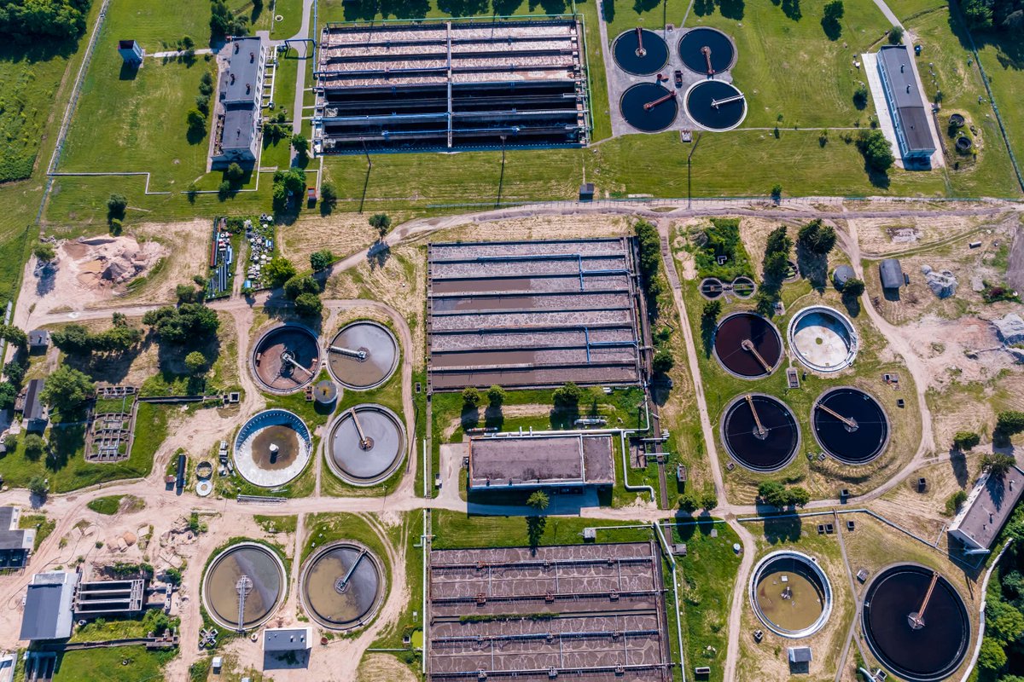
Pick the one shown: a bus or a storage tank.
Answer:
storage tank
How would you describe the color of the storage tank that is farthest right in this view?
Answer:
black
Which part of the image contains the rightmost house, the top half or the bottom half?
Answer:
bottom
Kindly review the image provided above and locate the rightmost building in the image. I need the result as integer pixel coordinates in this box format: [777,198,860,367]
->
[948,465,1024,555]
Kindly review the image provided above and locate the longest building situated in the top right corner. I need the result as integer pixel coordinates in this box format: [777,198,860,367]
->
[875,41,935,158]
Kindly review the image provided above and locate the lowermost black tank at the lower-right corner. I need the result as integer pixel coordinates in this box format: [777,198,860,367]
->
[861,565,974,682]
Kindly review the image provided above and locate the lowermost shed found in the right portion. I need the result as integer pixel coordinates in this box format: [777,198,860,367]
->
[788,647,812,662]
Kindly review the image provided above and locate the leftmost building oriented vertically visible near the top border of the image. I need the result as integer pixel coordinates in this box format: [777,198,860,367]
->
[212,34,266,164]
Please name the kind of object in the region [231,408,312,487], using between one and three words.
storage tank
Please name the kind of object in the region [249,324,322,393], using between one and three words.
storage tank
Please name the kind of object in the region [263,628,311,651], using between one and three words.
shed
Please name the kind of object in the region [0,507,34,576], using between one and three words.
building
